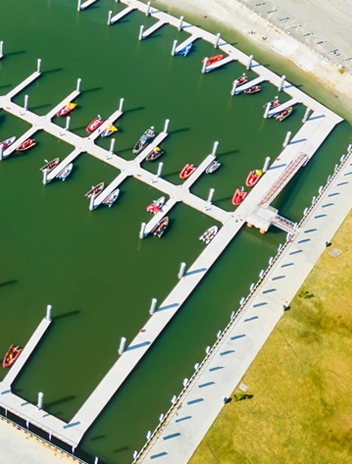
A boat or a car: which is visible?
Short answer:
boat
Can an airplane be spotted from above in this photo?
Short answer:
No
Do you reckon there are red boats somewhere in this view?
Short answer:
Yes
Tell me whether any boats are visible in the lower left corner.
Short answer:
Yes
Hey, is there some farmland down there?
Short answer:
No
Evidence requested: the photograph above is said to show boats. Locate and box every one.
[245,168,265,187]
[176,41,194,56]
[262,101,281,109]
[146,146,165,161]
[85,114,106,132]
[0,137,16,148]
[135,123,159,150]
[152,216,171,238]
[180,162,197,178]
[57,100,78,116]
[38,158,59,173]
[205,158,223,173]
[16,139,35,152]
[233,186,249,204]
[55,162,72,182]
[273,107,293,122]
[197,225,219,244]
[101,122,119,136]
[143,195,165,215]
[3,345,22,367]
[100,188,119,209]
[83,183,105,199]
[233,73,250,86]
